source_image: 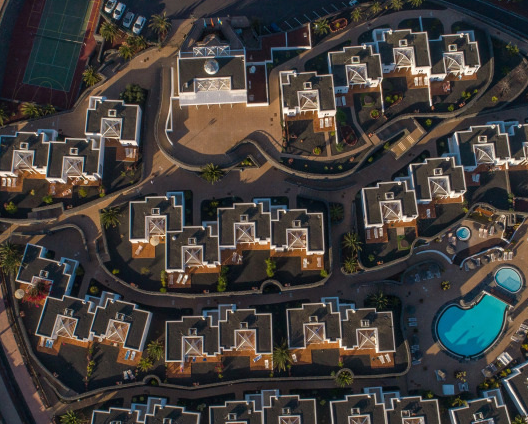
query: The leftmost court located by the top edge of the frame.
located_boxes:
[0,0,100,106]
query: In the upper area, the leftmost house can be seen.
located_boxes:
[0,126,58,192]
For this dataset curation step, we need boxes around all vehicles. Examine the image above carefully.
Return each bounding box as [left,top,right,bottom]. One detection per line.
[112,2,127,19]
[132,14,147,33]
[103,0,118,13]
[345,0,362,9]
[120,9,136,28]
